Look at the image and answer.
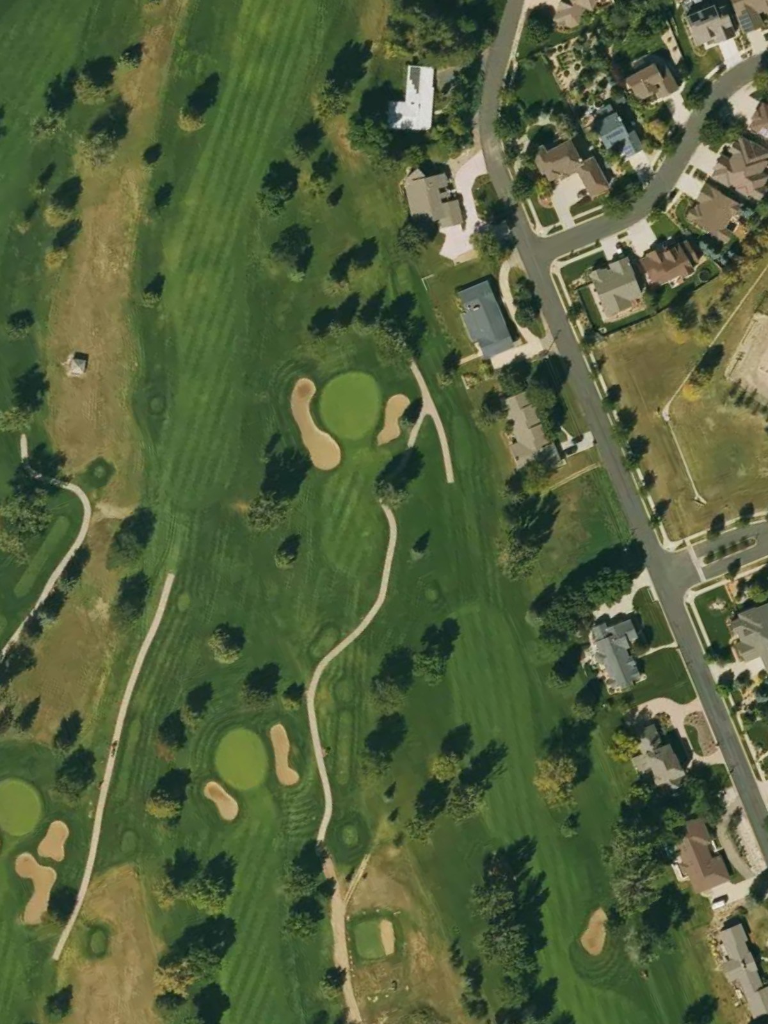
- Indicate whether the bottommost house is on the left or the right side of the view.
right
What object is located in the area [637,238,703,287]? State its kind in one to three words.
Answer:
house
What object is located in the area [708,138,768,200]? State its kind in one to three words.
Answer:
house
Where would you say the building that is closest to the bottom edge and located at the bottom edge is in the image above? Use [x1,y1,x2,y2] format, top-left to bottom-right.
[720,926,768,1016]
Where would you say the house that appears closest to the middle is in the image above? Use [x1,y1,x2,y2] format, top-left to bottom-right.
[503,393,561,474]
